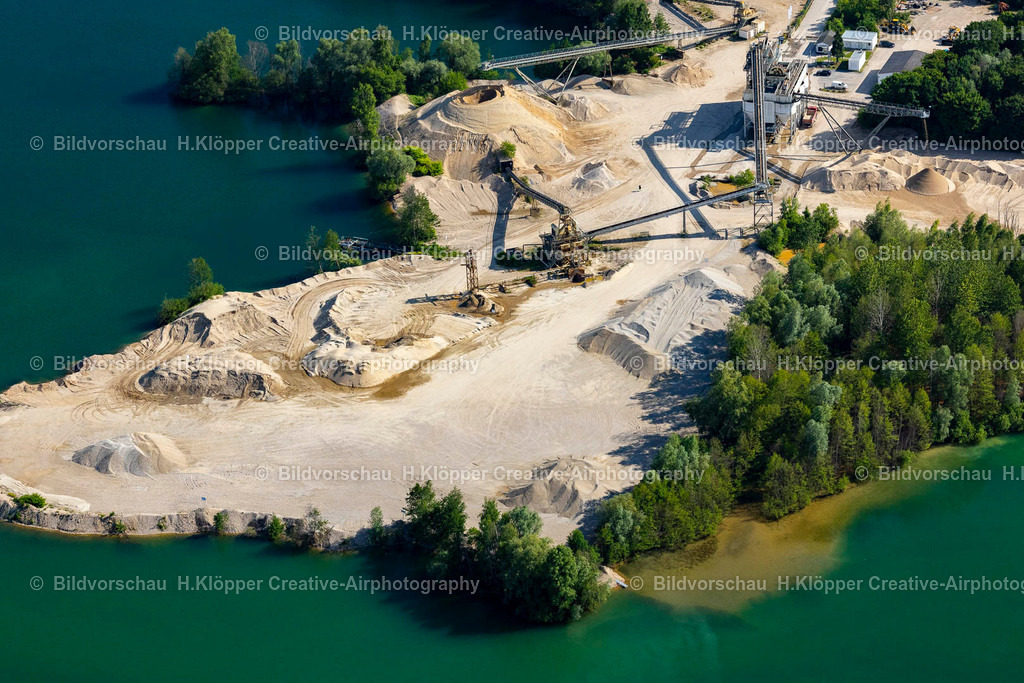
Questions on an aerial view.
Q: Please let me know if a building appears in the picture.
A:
Yes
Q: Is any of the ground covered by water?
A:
Yes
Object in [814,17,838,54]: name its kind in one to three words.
building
